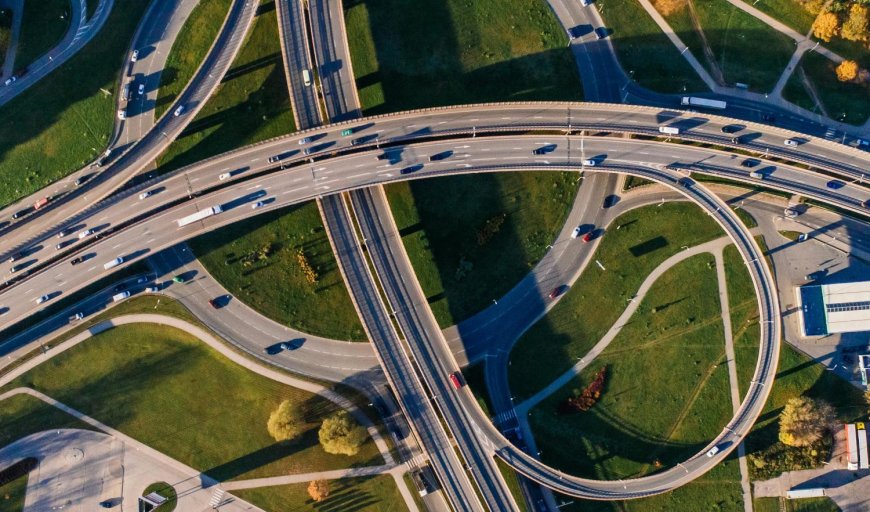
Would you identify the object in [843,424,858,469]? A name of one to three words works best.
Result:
vehicle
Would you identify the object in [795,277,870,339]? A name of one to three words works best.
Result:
building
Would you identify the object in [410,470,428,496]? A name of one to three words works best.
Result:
vehicle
